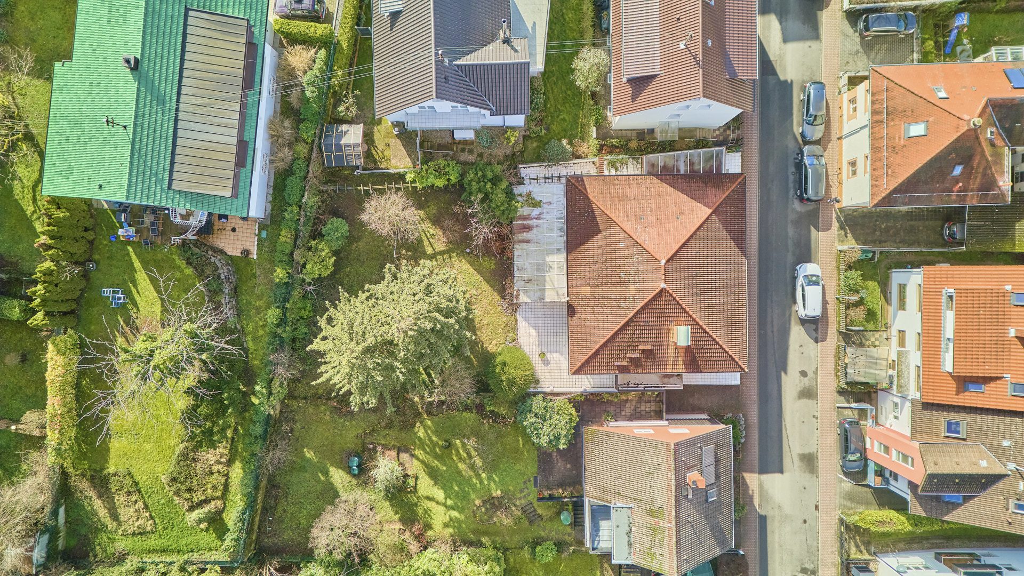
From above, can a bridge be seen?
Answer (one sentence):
No, the frame has no bridge in it.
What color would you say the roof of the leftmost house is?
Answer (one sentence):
The color of the roof on the leftmost house is green.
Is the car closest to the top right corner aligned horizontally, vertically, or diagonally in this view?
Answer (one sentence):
In this picture, the car closest to the top right corner is oriented horizontally.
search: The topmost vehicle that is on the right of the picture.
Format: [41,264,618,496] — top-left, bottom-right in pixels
[857,11,915,41]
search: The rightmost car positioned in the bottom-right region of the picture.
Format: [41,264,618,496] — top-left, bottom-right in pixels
[836,417,867,473]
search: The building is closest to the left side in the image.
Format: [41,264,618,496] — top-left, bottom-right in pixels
[41,0,289,217]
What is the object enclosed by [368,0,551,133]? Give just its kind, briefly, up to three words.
house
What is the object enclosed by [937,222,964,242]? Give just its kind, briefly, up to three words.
car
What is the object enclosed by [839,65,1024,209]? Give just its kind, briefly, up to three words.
house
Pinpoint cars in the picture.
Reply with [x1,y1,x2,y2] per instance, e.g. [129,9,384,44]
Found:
[937,222,964,242]
[794,263,824,319]
[857,11,915,41]
[285,0,327,19]
[799,83,829,142]
[836,417,867,473]
[798,146,828,204]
